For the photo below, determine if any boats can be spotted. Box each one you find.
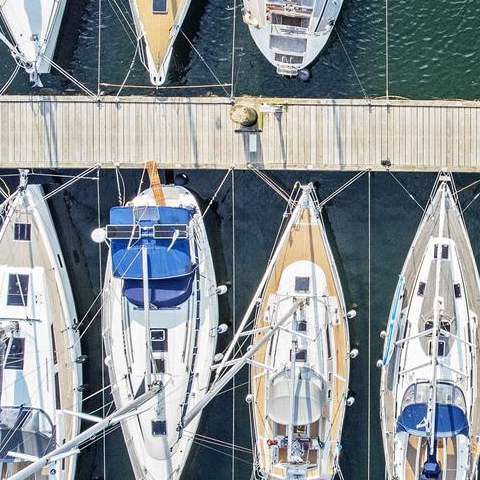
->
[0,184,222,480]
[110,0,192,90]
[170,174,352,480]
[0,0,68,88]
[242,0,347,76]
[381,169,480,480]
[0,171,79,480]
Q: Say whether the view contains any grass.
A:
No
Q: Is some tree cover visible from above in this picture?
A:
No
